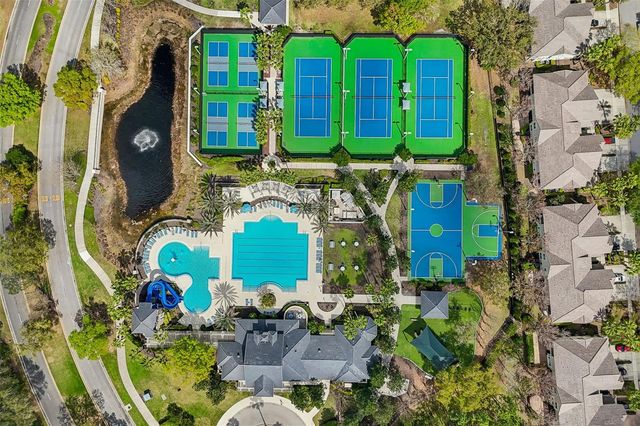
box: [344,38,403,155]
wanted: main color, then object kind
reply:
green tennis court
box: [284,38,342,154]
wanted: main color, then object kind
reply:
green tennis court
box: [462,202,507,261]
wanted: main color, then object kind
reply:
green basketball court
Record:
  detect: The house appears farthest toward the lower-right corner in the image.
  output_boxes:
[547,334,629,426]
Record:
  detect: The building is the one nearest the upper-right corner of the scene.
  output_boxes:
[518,0,596,63]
